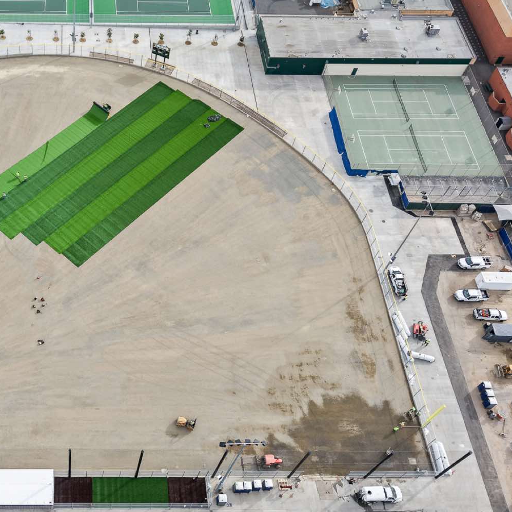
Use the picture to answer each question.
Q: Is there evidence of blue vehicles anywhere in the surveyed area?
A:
No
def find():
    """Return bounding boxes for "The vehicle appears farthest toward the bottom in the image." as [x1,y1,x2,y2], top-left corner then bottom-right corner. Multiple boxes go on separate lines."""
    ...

[348,486,404,505]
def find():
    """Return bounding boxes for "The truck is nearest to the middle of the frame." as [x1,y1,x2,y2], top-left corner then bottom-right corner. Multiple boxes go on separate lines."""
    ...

[388,268,411,297]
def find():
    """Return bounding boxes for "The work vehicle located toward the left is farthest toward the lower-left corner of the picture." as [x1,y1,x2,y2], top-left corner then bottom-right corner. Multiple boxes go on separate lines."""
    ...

[173,417,200,434]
